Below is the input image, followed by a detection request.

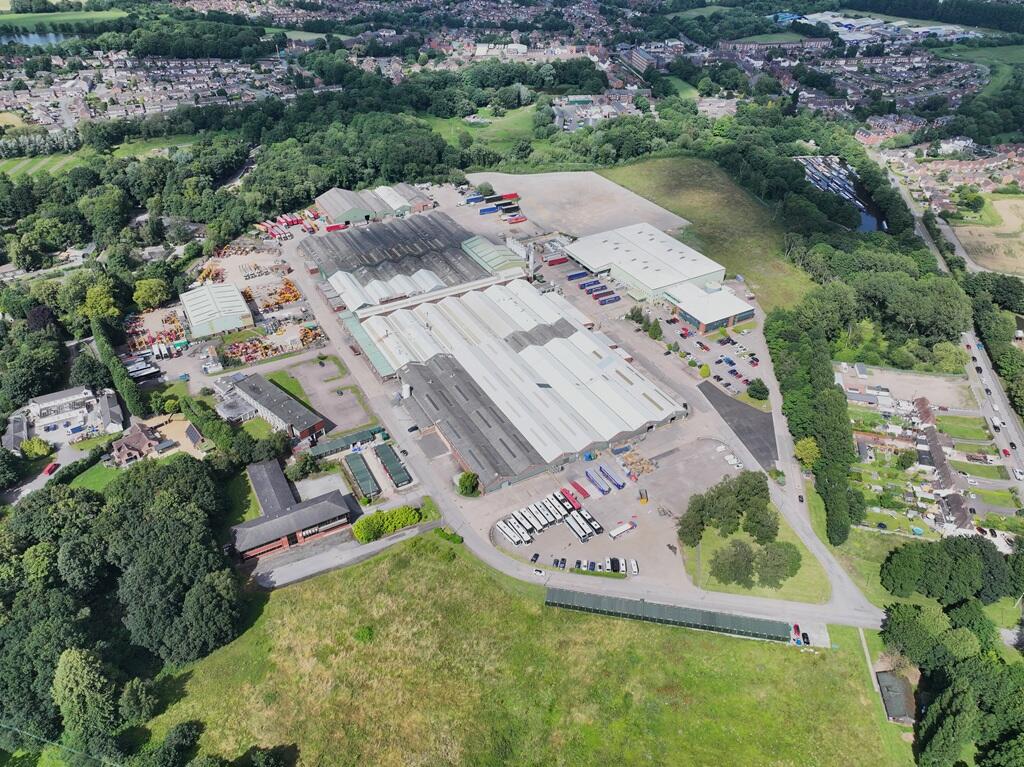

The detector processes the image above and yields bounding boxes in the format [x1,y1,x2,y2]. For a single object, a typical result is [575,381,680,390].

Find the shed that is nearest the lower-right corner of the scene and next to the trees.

[874,672,915,723]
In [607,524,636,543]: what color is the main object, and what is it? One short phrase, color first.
white vehicle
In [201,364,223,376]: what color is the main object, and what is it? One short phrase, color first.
white vehicle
